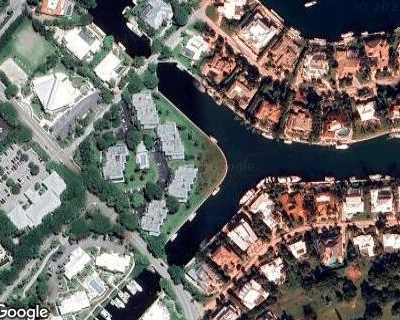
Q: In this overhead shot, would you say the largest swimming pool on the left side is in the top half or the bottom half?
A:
bottom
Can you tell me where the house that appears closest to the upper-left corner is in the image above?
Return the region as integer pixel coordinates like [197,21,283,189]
[42,0,70,23]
